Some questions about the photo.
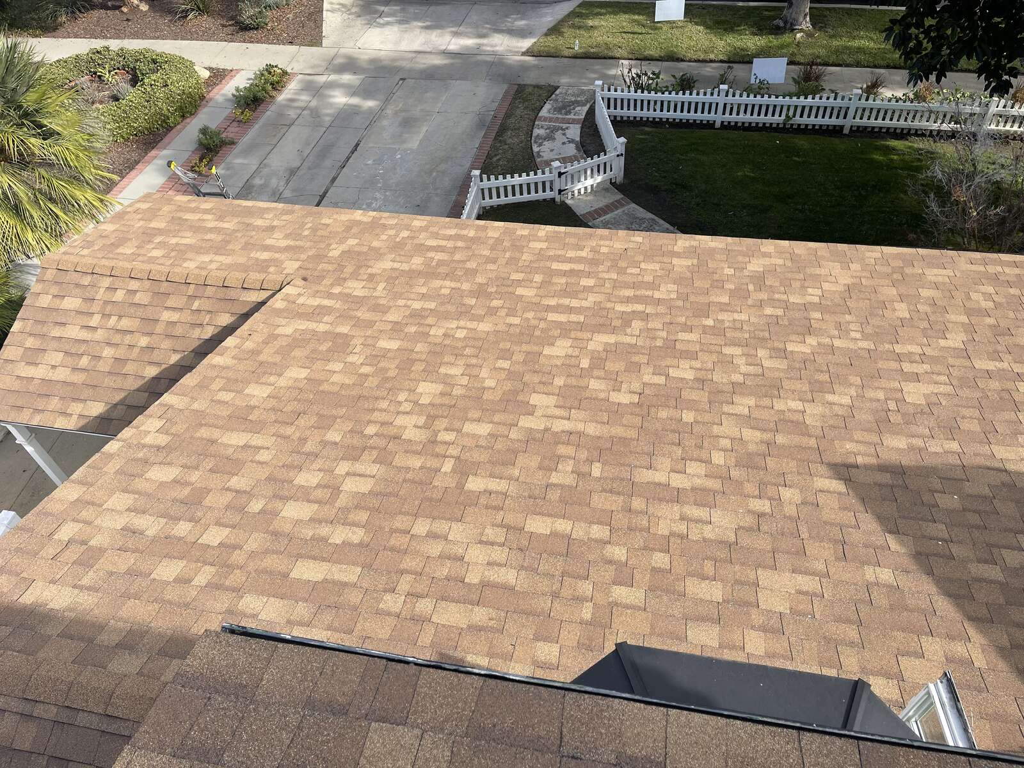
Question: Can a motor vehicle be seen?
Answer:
No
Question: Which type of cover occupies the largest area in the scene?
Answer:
buildings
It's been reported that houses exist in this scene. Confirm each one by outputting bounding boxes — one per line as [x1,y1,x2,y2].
[0,192,1024,768]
